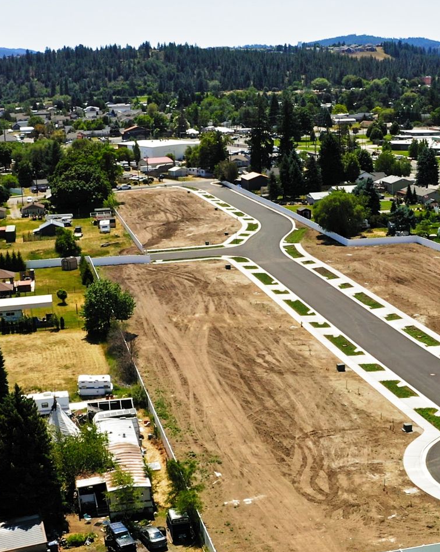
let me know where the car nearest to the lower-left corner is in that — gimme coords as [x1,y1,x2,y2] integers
[109,518,140,551]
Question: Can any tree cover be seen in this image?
Yes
